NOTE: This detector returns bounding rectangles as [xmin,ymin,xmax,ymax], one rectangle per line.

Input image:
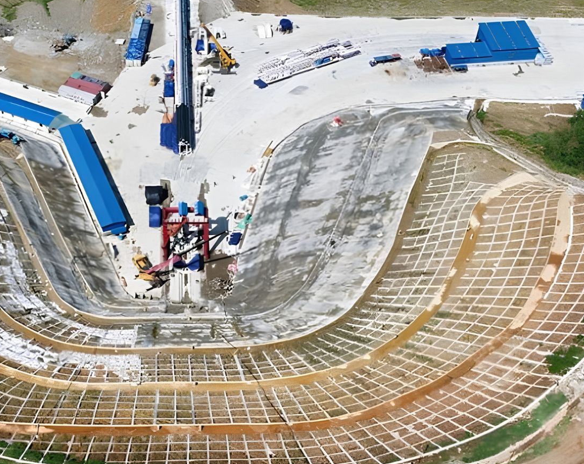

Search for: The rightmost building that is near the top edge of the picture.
[443,17,542,66]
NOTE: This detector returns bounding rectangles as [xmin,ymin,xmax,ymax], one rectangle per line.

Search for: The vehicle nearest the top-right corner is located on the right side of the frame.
[369,49,406,64]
